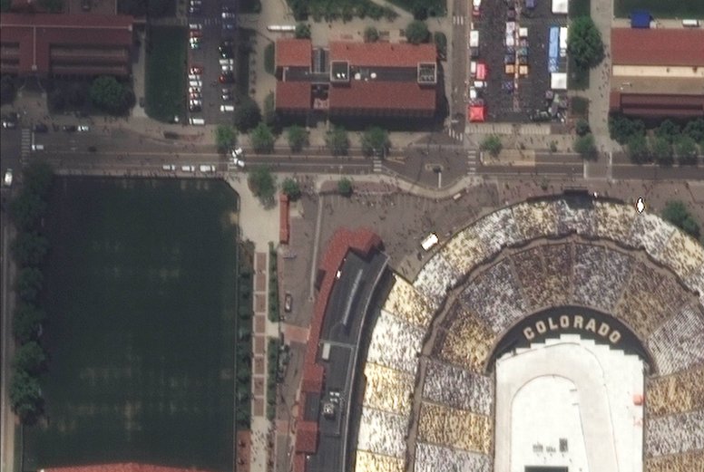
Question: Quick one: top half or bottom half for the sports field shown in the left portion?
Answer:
bottom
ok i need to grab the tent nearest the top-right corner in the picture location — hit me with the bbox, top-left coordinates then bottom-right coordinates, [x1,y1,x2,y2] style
[632,11,651,28]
